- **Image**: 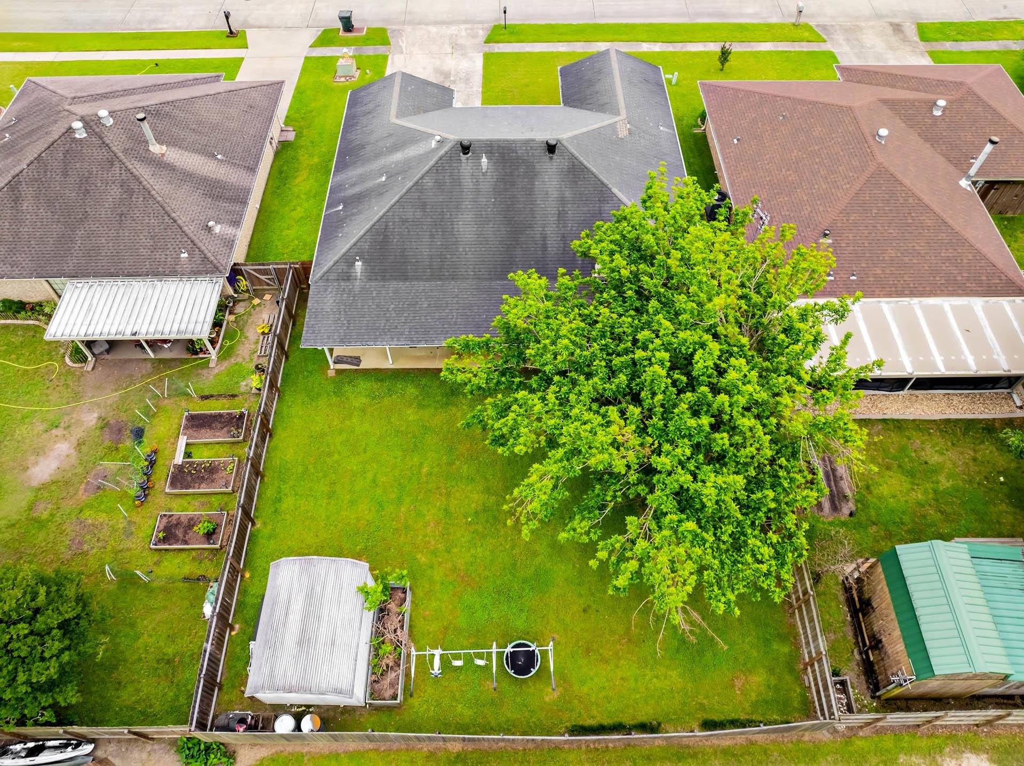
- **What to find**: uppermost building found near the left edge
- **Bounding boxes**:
[0,73,290,317]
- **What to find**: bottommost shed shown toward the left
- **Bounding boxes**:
[244,556,374,707]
